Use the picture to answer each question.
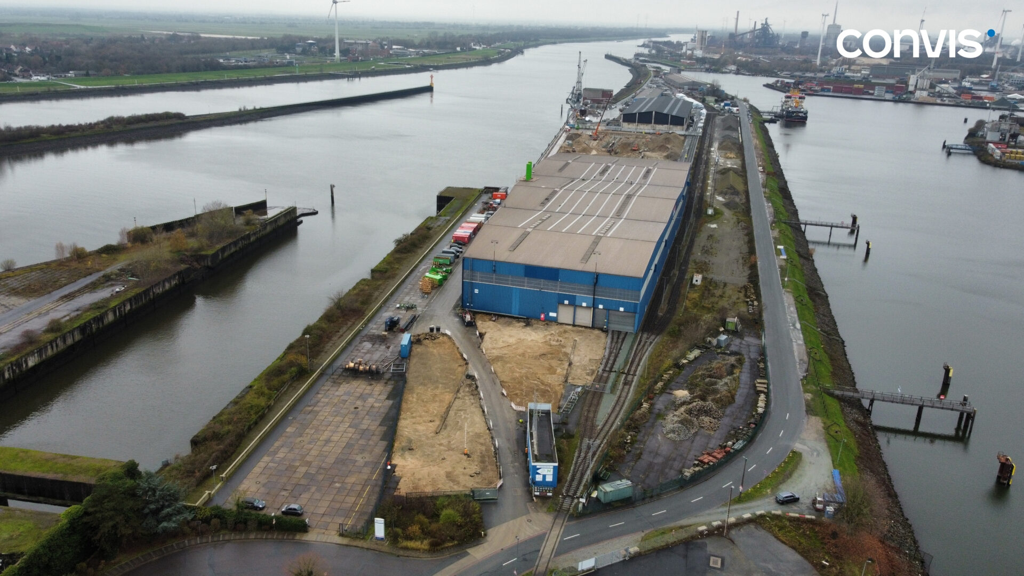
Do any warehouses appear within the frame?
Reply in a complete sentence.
Yes, a warehouse appears in the view.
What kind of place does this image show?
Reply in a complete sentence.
This looks like a port.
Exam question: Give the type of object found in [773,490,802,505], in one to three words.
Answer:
car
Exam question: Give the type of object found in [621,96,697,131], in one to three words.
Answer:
building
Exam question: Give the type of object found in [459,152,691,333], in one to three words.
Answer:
warehouse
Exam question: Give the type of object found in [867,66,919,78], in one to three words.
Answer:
building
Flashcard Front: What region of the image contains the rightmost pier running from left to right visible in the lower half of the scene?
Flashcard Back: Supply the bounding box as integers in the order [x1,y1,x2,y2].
[824,384,978,444]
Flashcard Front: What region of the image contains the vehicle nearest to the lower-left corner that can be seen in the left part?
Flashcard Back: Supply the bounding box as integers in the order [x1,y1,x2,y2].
[238,497,265,511]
